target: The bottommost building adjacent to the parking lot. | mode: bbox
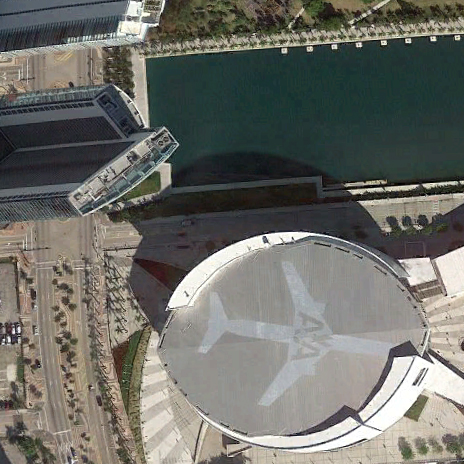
[0,85,178,228]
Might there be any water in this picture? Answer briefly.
Yes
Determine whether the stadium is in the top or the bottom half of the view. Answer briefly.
bottom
